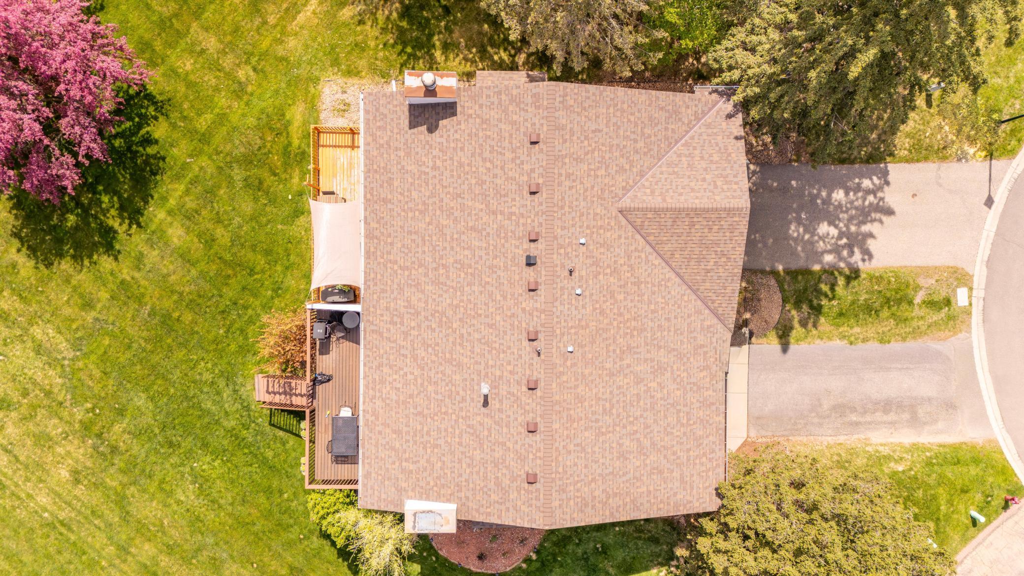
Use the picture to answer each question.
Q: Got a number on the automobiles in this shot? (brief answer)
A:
zero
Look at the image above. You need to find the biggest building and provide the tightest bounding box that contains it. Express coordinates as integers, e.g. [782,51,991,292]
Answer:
[358,70,751,534]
